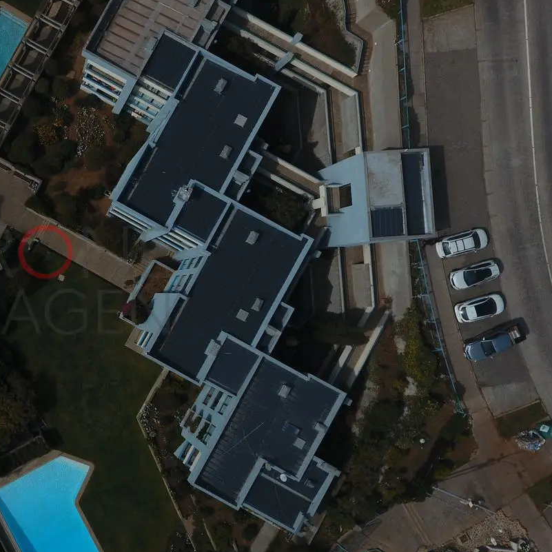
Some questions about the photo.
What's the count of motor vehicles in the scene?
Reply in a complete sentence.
The number of motor vehicles here is 4.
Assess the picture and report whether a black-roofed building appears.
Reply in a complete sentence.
Yes, this view includes a black-roofed building.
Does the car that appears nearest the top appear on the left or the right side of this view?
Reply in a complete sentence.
The car that appears nearest the top sits on the right side.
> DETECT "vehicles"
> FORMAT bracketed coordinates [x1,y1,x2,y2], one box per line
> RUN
[431,229,486,258]
[459,322,527,362]
[451,293,504,322]
[447,258,499,287]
